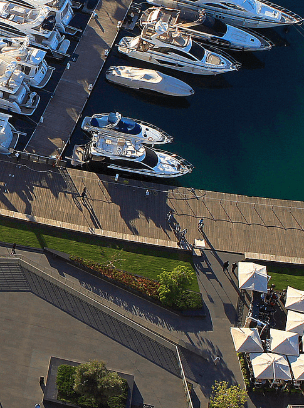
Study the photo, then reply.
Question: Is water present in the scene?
Yes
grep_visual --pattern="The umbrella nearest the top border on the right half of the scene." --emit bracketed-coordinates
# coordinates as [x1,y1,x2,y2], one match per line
[236,261,270,288]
